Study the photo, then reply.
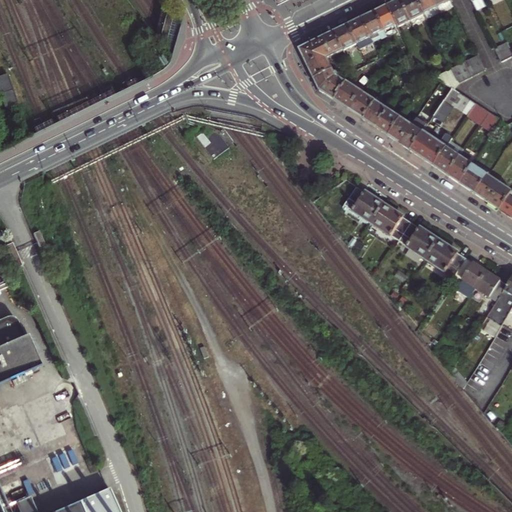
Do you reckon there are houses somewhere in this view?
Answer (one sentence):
Yes, the image includes a house.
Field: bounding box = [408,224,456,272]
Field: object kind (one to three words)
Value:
house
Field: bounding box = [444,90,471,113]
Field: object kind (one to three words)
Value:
building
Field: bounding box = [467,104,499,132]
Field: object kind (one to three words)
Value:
building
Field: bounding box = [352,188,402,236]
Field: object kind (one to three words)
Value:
house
